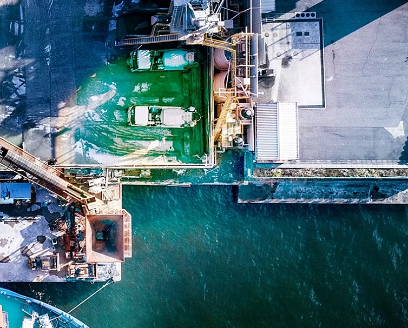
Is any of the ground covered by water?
Yes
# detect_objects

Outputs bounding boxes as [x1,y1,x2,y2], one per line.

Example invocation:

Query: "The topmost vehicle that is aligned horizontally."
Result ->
[128,46,209,72]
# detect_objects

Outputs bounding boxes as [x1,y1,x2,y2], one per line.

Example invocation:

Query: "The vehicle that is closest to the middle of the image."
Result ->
[126,100,206,128]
